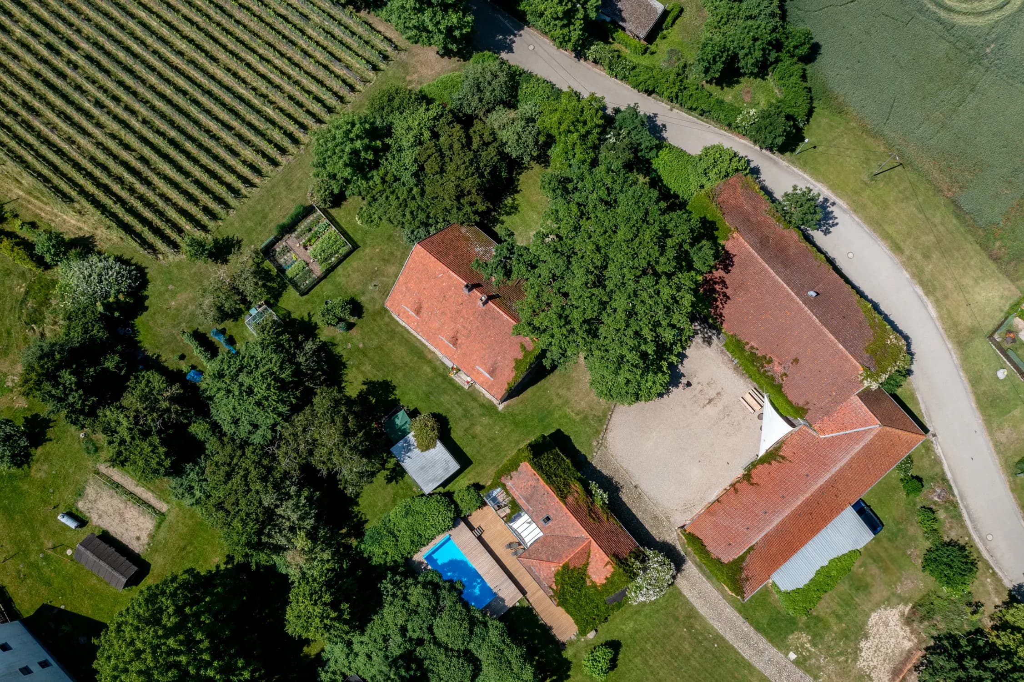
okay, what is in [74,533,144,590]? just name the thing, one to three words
shed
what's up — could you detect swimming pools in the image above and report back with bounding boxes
[414,518,523,618]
